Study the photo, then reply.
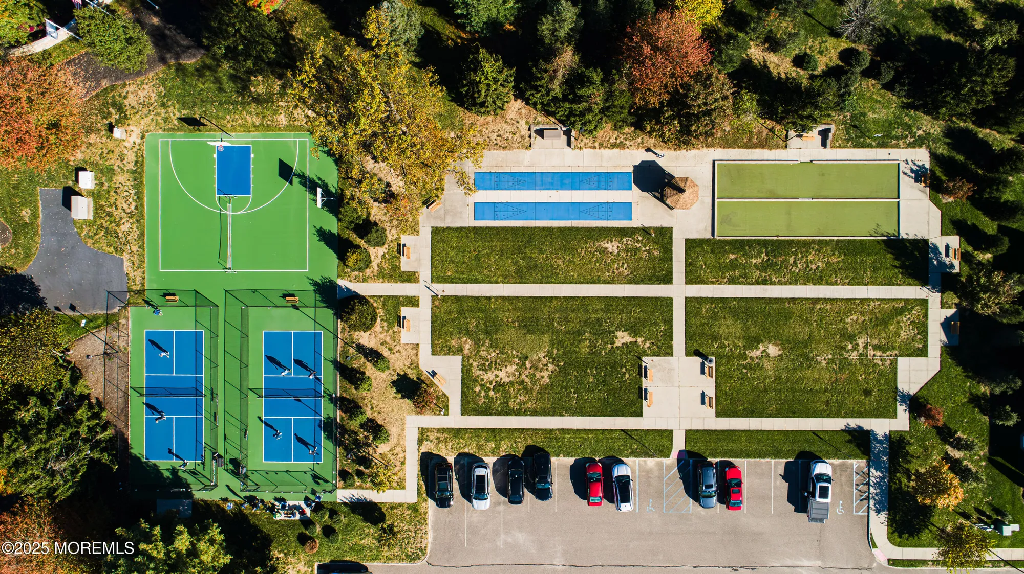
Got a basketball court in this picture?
Yes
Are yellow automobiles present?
No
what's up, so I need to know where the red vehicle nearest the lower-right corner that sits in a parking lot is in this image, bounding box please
[723,465,744,509]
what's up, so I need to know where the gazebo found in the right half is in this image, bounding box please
[661,175,700,211]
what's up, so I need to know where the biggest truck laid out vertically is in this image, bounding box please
[806,458,834,523]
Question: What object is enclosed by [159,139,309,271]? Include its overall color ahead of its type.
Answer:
green basketball court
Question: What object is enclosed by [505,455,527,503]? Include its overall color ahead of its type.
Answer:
black car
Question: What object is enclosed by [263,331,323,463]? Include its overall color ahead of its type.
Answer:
blue sports court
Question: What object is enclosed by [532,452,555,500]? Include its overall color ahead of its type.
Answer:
black car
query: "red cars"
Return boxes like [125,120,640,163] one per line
[723,465,744,509]
[584,461,604,505]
